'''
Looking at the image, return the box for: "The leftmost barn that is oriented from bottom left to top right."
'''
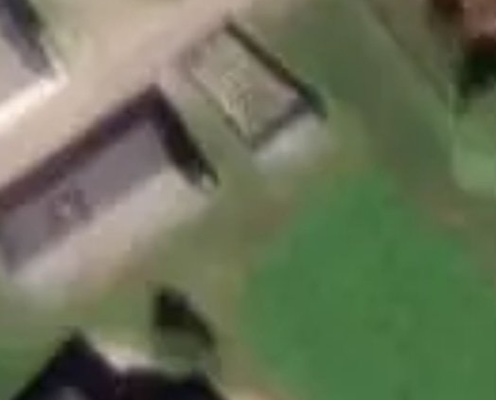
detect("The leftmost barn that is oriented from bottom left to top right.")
[0,117,199,309]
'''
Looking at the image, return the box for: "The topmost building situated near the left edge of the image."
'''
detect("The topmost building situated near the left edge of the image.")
[0,0,64,131]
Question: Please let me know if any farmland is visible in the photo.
Yes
